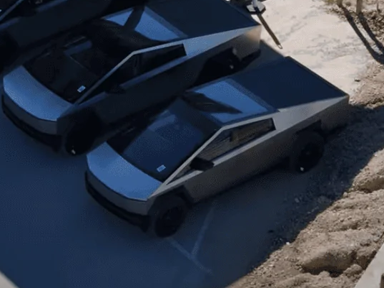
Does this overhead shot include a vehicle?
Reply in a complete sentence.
Yes, the picture does show a vehicle.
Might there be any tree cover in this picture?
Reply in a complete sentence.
No, tree cover can't be seen anywhere here.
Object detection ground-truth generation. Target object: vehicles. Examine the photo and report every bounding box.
[0,0,261,157]
[0,0,160,78]
[80,55,350,236]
